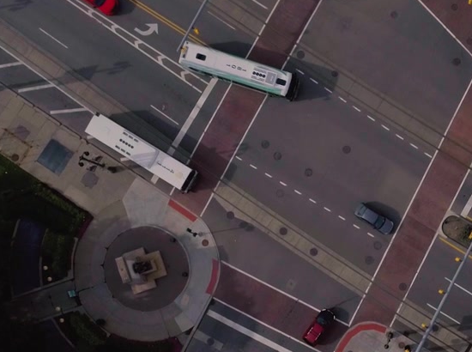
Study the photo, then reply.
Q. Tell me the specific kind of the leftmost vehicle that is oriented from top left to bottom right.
bus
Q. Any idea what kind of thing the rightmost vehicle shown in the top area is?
bus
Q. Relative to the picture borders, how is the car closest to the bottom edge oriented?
at an angle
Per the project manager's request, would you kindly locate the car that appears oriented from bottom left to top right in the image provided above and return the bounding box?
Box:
[301,309,335,347]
